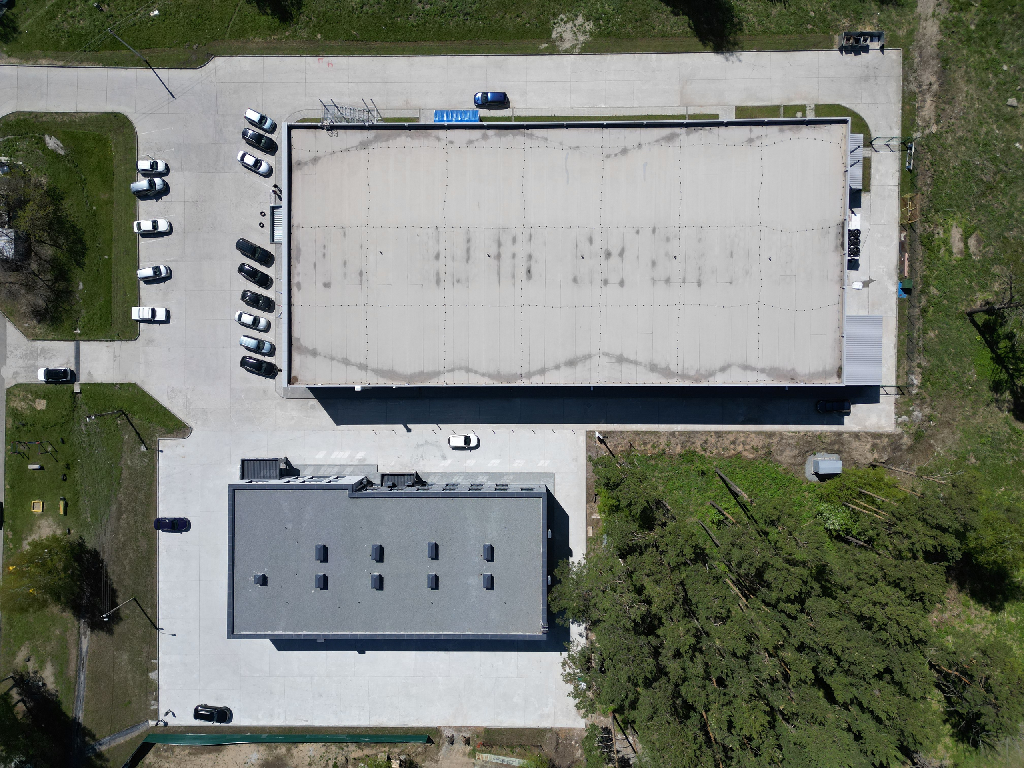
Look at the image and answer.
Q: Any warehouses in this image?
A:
Yes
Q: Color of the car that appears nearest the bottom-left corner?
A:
black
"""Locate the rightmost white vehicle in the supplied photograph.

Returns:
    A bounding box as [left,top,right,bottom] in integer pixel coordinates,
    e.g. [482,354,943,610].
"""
[446,432,479,449]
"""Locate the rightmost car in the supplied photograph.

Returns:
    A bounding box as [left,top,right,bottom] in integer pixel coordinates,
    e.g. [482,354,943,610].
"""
[814,397,854,415]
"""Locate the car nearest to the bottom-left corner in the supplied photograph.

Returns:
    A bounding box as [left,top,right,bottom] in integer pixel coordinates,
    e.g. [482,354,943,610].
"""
[191,703,232,727]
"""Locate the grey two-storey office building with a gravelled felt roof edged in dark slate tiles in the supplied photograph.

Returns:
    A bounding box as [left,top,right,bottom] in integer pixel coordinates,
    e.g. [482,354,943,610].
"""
[228,476,551,642]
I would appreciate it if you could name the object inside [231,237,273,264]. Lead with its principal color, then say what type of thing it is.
black car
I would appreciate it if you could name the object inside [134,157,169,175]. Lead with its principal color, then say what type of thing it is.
white car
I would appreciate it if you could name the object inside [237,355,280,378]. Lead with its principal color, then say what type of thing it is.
black car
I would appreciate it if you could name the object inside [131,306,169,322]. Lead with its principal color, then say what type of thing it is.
white car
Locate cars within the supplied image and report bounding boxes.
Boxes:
[237,355,280,378]
[237,289,275,311]
[152,515,191,533]
[238,127,279,153]
[231,237,273,264]
[132,216,172,235]
[134,263,172,282]
[237,335,275,355]
[134,157,169,175]
[126,175,169,198]
[241,106,278,133]
[233,310,271,331]
[446,432,479,449]
[36,365,72,383]
[191,703,232,727]
[814,397,854,415]
[474,88,508,107]
[234,262,273,288]
[131,306,169,322]
[235,150,273,177]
